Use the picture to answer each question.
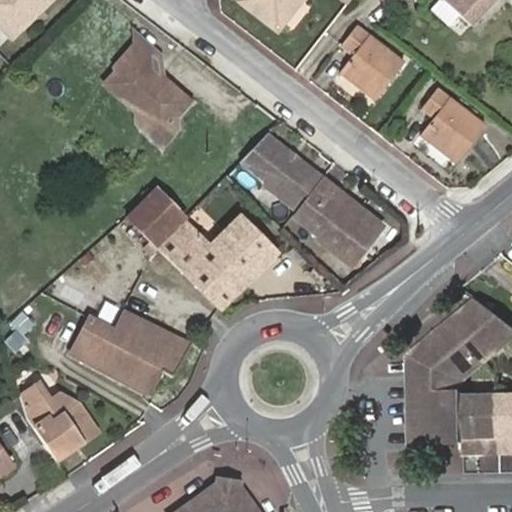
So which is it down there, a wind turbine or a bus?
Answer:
bus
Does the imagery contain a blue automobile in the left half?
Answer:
No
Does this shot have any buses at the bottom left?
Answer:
Yes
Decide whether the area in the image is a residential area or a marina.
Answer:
residential area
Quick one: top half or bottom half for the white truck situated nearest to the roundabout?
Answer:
bottom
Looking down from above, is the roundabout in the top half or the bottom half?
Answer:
bottom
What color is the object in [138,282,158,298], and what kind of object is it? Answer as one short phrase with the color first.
white car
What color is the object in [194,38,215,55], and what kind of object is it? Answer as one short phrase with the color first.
gray car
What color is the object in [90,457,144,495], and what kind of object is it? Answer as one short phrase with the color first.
white bus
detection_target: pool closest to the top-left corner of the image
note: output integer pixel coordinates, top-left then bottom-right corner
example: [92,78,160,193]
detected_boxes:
[236,170,258,190]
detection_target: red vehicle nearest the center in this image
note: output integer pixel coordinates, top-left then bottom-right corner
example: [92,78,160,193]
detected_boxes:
[260,326,282,338]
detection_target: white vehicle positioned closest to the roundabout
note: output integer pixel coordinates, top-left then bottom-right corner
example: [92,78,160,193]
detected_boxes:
[178,392,214,428]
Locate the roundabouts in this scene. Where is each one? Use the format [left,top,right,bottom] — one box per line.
[216,316,342,442]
